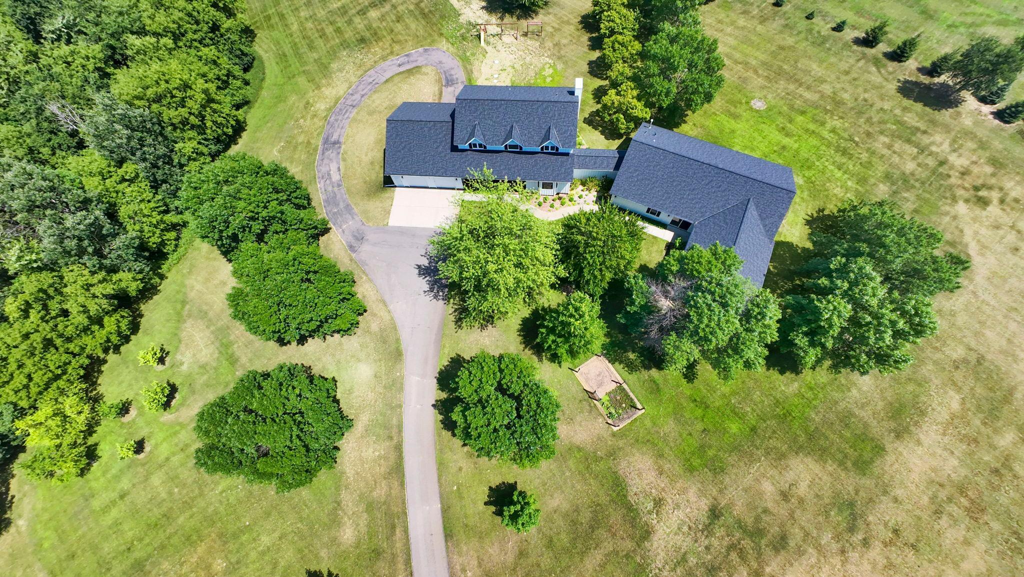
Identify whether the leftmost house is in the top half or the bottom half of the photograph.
top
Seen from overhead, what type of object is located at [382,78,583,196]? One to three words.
house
